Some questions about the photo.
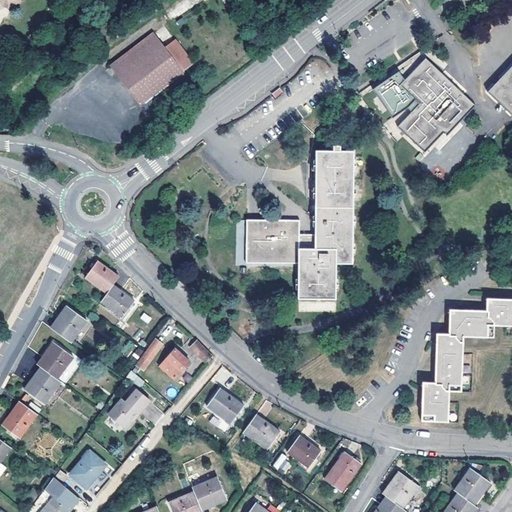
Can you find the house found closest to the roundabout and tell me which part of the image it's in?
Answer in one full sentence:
The house found closest to the roundabout appears toward the left of the photo.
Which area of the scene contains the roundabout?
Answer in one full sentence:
The roundabout is in the left part of the image.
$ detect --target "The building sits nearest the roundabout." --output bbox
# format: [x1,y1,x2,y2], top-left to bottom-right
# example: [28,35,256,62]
[85,260,118,293]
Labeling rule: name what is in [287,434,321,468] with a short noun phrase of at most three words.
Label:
house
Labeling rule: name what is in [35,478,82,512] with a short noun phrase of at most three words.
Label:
house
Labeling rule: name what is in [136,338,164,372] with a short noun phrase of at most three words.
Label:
shed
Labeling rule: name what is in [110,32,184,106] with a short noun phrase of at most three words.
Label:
building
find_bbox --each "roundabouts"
[56,167,130,240]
